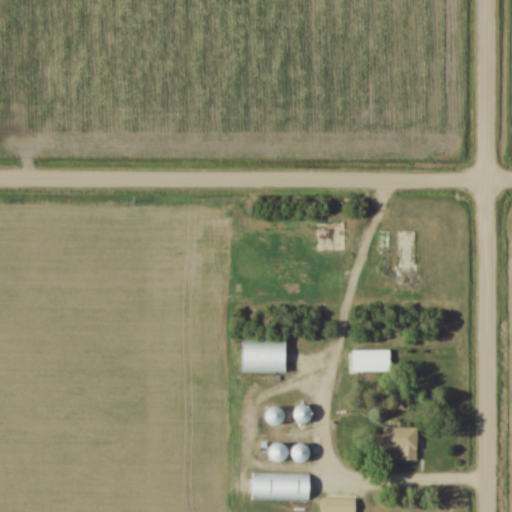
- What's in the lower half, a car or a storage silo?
storage silo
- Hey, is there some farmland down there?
Yes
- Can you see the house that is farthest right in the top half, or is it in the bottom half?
bottom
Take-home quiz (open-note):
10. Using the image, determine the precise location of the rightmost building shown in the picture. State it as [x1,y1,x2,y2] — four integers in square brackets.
[391,427,418,462]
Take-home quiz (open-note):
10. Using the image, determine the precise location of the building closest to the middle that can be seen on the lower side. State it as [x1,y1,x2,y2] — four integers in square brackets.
[242,342,286,373]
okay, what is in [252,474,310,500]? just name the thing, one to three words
barn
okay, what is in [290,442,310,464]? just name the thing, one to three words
silo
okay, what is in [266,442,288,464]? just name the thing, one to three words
silo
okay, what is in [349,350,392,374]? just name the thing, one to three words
shed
